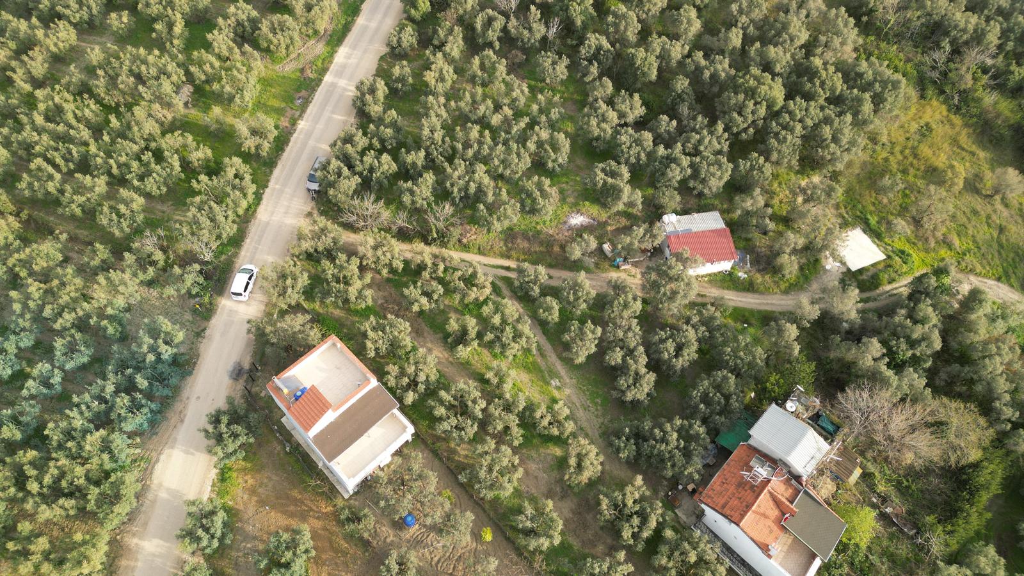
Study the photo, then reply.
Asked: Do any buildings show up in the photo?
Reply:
Yes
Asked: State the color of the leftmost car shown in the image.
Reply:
white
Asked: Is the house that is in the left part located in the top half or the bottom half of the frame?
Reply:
bottom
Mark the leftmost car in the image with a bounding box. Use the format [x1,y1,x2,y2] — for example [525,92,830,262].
[229,265,257,300]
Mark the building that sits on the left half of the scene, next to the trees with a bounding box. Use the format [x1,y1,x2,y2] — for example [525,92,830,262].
[265,334,416,495]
